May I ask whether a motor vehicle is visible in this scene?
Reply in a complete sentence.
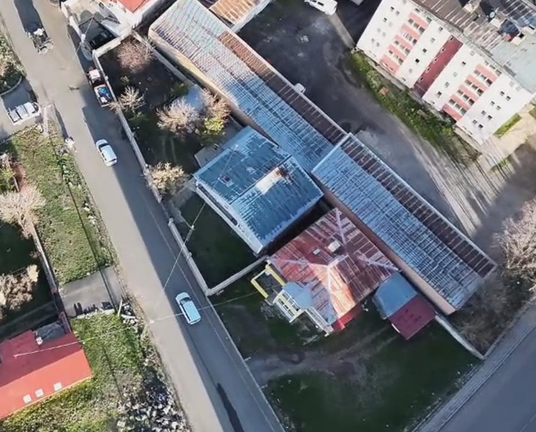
Yes, the frame does contain a motor vehicle.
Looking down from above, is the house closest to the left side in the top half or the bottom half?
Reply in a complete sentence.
The bottom half of the photo is where the house closest to the left side is.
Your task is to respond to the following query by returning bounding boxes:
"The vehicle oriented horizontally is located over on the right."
[303,0,340,16]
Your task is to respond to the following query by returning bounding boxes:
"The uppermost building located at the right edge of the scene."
[361,0,536,141]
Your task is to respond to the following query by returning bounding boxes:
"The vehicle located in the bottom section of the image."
[175,291,203,328]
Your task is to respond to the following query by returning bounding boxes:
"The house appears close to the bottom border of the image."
[0,323,93,424]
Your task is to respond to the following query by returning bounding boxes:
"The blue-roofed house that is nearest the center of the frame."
[192,130,321,254]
